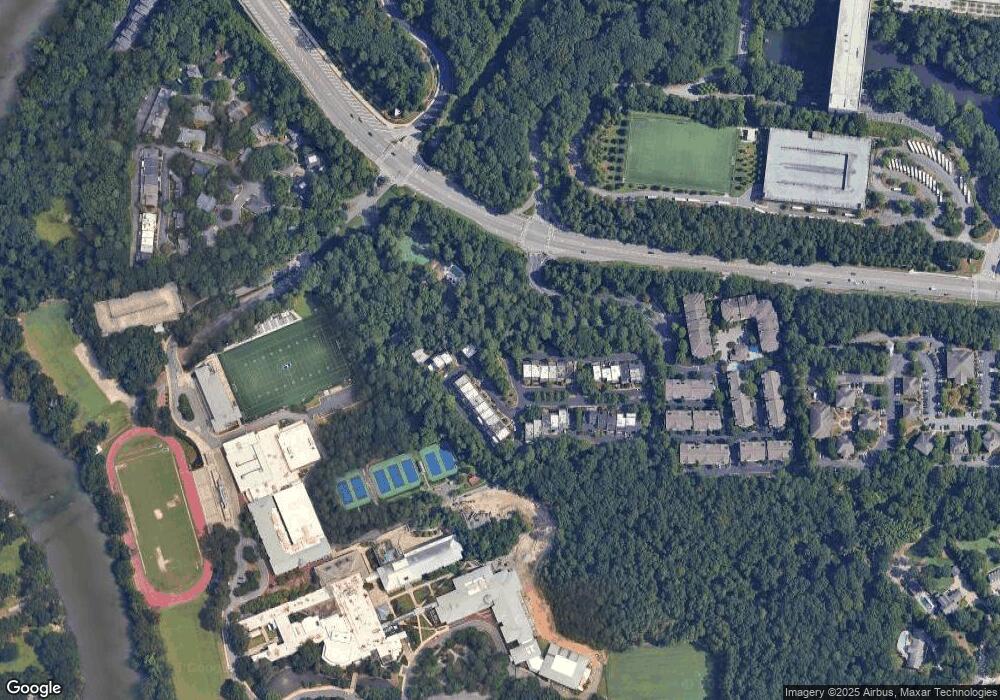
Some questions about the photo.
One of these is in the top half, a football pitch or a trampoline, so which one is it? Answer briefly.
football pitch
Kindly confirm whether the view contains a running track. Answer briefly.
Yes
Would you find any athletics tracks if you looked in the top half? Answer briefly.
No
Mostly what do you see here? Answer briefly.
trees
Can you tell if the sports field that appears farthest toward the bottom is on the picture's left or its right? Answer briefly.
right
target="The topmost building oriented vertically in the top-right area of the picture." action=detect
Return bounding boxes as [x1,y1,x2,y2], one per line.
[829,0,872,110]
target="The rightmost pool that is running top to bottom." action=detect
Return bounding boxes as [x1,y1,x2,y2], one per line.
[897,631,911,660]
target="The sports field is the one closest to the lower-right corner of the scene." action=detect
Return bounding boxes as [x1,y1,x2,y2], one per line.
[604,642,711,700]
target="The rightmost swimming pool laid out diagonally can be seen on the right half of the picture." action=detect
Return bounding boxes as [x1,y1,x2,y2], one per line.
[918,593,935,614]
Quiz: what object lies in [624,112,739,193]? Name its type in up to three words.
soccer field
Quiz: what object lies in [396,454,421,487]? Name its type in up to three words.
tennis court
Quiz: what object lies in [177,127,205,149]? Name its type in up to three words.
house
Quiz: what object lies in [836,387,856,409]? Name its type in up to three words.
building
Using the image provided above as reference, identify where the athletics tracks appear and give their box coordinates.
[107,422,212,603]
